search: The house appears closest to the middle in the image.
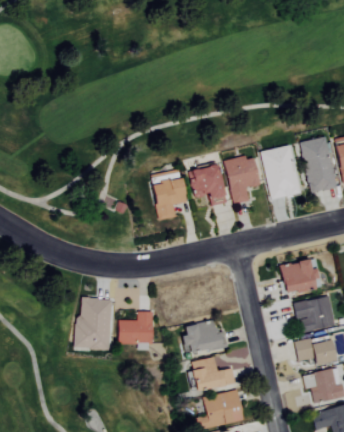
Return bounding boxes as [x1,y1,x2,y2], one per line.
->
[150,168,188,221]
